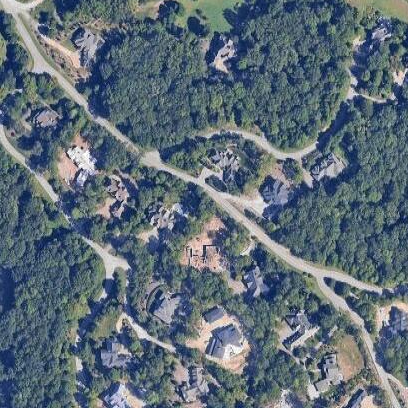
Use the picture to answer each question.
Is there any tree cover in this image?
Yes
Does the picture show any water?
No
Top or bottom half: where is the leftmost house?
top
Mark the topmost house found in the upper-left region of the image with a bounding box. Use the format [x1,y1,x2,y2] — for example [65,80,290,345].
[74,28,104,68]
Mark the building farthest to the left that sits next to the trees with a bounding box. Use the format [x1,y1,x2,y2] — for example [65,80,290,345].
[33,109,59,132]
